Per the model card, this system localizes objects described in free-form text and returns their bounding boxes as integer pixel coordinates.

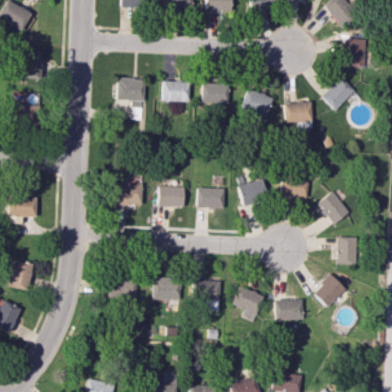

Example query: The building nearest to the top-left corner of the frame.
[0,0,32,30]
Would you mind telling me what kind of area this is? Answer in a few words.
residential area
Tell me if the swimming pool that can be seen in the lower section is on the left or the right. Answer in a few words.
right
